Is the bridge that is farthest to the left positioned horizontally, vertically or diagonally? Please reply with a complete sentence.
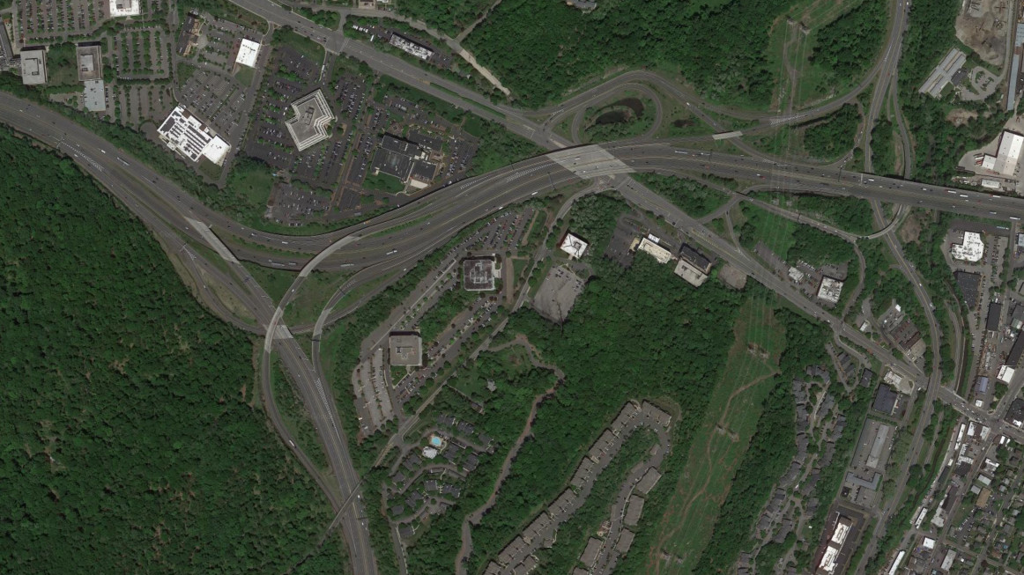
In this picture, the bridge that is farthest to the left lies diagonally.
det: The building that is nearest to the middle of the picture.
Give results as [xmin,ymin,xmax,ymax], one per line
[464,260,497,290]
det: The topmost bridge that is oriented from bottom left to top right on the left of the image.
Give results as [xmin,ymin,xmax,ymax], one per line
[299,231,358,276]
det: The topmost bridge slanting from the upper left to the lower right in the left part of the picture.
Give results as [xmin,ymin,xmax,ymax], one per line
[182,213,242,268]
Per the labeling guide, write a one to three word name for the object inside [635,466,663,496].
house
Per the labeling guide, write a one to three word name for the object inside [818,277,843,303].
building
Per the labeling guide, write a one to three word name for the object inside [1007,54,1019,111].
shed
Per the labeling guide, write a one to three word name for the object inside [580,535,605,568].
house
